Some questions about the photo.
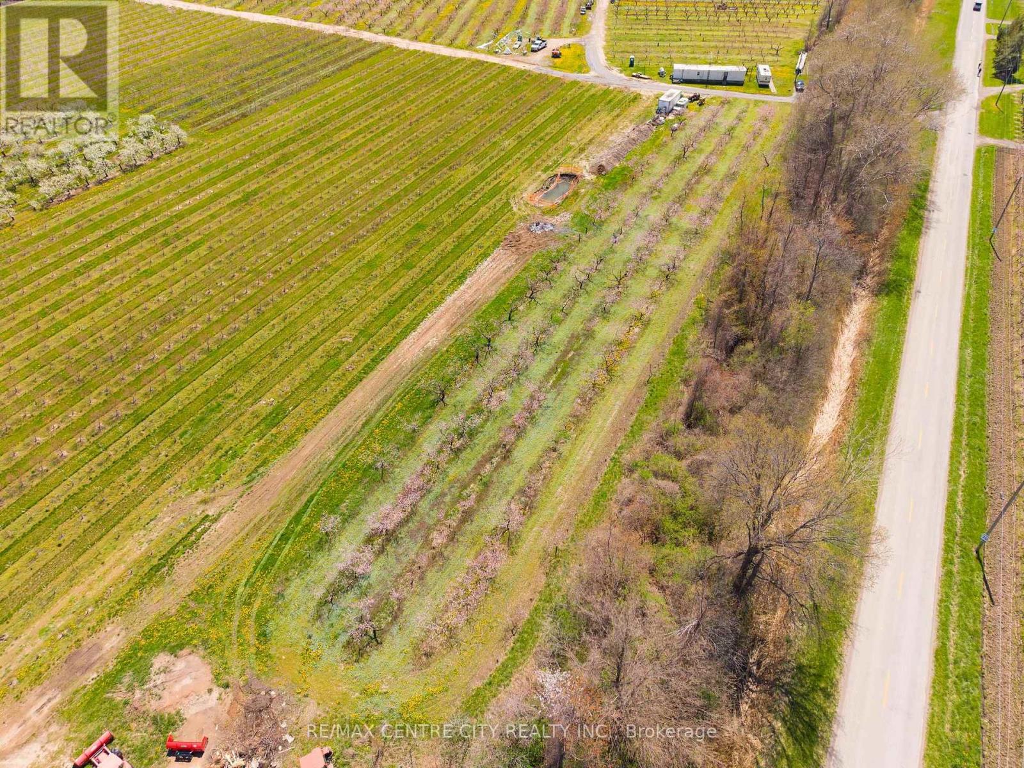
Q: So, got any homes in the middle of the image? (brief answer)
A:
No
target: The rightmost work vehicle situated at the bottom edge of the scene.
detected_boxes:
[289,739,330,768]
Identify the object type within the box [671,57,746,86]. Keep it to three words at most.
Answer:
house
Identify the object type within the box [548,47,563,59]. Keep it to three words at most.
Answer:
vehicle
